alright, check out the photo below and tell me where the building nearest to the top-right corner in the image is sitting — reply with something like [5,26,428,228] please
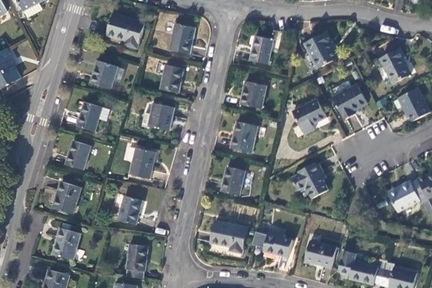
[376,48,410,84]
